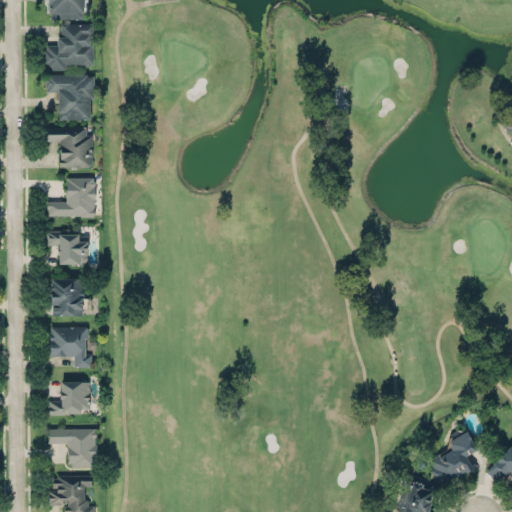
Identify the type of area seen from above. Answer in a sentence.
It's a golf course.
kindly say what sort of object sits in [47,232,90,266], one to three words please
house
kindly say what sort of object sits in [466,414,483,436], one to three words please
swimming pool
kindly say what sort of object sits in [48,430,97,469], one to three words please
house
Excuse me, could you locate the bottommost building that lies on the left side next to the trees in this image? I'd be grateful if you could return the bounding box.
[49,474,96,512]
